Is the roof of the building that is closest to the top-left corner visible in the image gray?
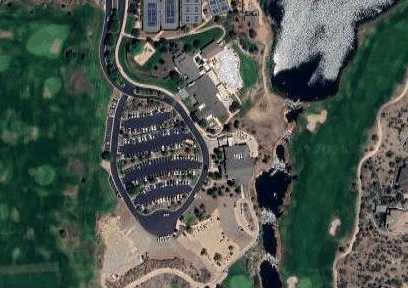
Yes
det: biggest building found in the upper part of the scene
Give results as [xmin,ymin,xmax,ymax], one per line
[173,41,229,129]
